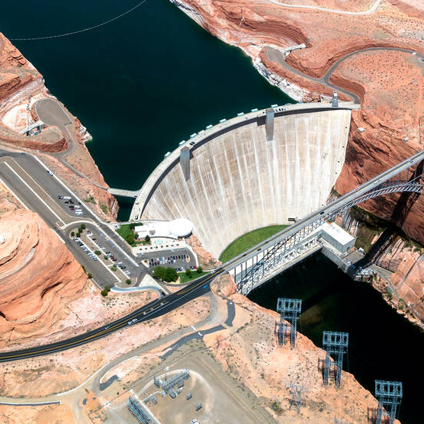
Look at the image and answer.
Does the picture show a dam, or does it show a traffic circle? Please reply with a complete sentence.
Visible in the photo is a dam.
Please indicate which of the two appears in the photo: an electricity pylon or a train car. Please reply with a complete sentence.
Visible in the photo is an electricity pylon.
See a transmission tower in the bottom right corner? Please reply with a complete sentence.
Yes, a transmission tower appears in the bottom right corner.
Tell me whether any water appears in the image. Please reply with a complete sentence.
Yes, the picture does contain water.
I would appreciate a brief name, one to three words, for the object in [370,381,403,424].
pylon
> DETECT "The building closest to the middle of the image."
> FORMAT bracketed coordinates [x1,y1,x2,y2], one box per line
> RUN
[135,219,193,242]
